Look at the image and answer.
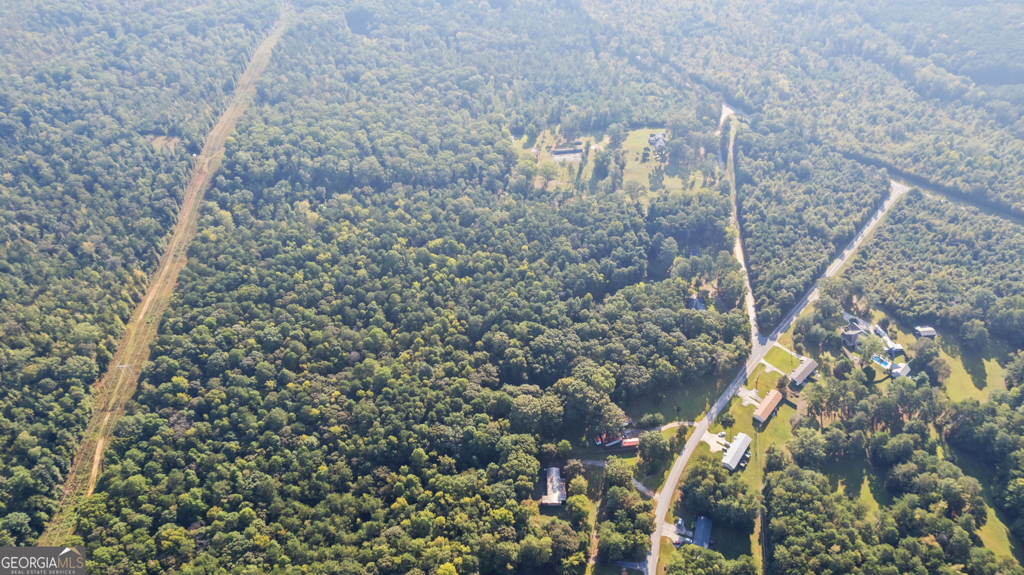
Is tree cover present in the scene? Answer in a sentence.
Yes, there's tree cover in this view.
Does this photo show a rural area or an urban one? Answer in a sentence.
It looks rural.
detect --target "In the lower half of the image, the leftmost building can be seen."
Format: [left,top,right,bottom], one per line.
[542,467,567,509]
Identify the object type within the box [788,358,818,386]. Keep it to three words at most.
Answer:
house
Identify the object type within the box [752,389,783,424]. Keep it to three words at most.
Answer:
house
